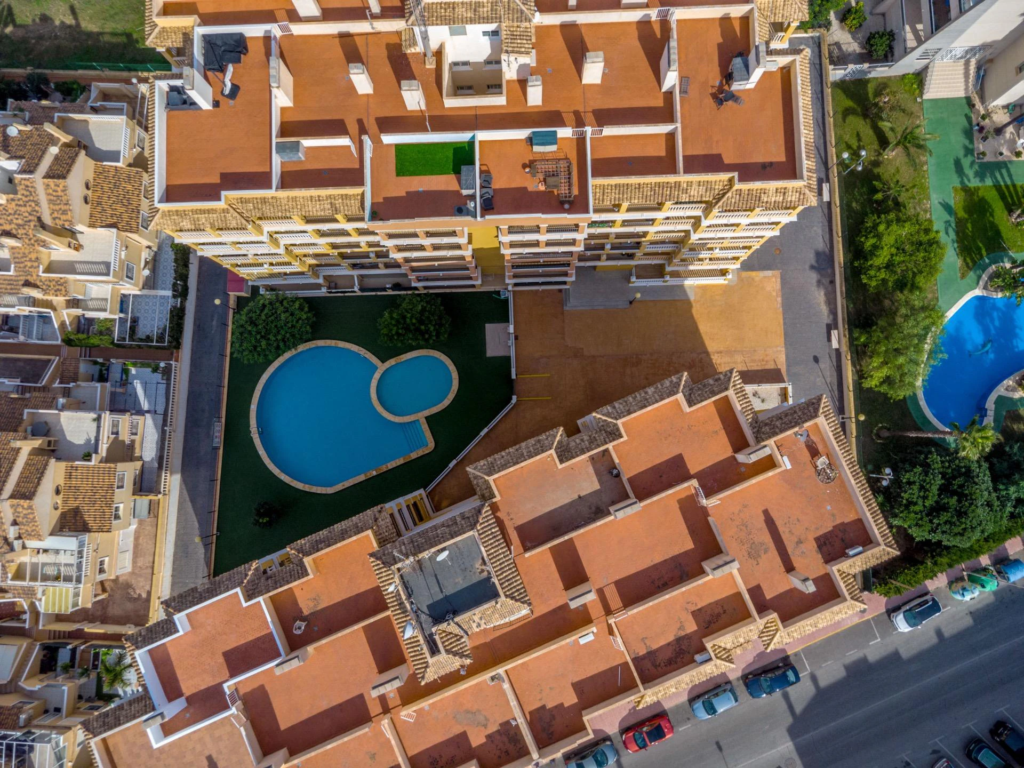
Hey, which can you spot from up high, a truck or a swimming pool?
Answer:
swimming pool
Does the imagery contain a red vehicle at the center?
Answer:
No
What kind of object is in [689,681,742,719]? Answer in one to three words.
car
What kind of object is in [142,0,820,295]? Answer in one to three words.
building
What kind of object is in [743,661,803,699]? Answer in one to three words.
car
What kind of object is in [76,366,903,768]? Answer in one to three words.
building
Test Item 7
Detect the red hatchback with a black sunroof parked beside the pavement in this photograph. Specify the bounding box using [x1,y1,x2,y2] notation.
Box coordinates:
[621,712,675,752]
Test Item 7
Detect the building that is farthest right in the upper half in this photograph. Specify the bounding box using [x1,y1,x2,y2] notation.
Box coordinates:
[855,0,1024,126]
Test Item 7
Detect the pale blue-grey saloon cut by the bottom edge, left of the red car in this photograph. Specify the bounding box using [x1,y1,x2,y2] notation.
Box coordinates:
[564,738,618,768]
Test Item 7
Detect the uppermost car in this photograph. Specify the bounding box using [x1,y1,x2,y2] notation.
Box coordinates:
[886,592,946,631]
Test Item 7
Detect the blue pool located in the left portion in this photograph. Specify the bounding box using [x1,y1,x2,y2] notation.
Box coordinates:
[250,339,459,493]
